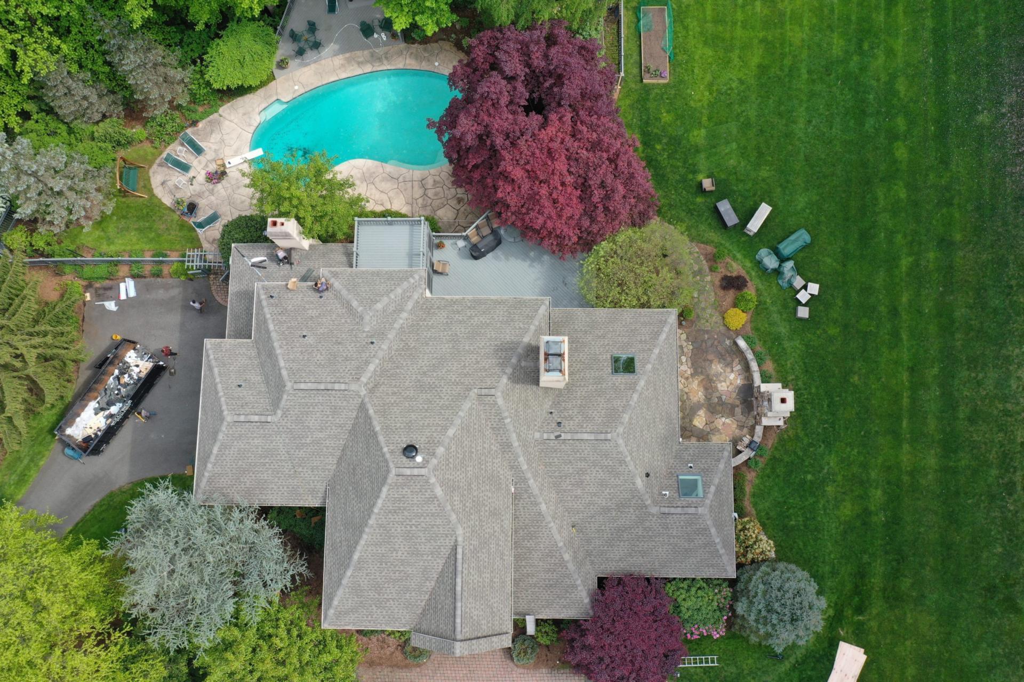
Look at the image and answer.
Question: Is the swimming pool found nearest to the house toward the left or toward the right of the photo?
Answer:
left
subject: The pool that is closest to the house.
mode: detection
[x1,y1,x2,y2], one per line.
[251,70,454,176]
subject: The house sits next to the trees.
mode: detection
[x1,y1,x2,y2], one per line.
[191,216,740,657]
